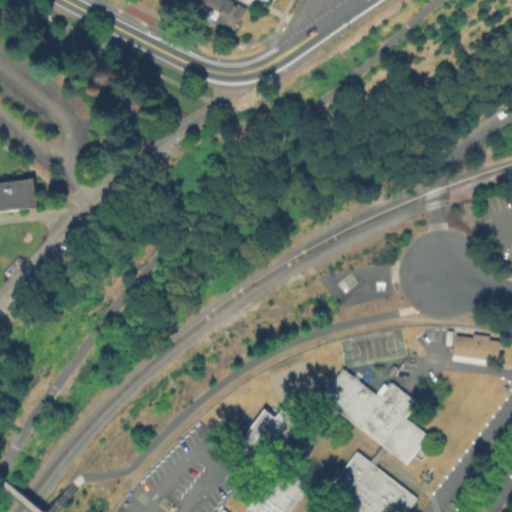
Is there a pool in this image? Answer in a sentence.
No, the photo shows no pool.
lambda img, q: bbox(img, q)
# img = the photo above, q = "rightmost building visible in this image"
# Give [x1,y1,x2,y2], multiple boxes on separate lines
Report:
[452,336,502,366]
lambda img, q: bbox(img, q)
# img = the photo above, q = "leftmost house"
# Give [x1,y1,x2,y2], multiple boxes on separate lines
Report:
[0,178,35,208]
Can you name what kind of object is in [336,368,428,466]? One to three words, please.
building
